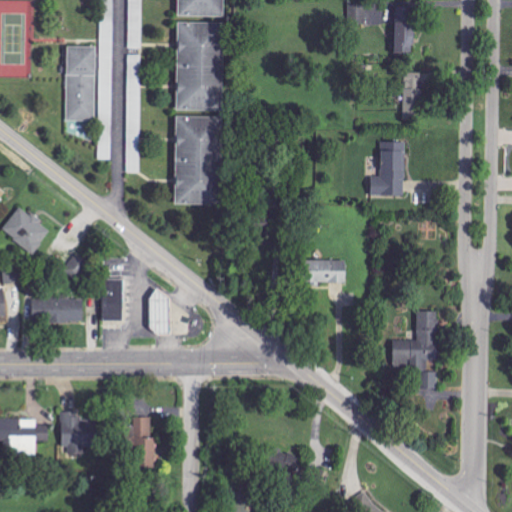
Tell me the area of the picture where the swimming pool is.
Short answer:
top left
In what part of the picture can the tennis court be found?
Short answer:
top left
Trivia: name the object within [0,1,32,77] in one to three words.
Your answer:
tennis court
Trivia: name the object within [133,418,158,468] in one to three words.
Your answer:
house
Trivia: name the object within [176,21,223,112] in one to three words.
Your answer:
building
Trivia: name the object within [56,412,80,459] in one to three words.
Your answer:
house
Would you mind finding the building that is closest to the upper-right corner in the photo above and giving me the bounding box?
[394,12,414,54]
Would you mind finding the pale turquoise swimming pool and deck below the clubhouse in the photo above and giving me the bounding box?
[64,121,96,144]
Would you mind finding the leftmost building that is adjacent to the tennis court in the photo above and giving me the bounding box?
[65,45,96,122]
